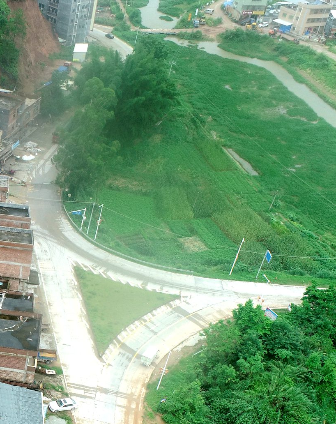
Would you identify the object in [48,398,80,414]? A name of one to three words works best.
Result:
car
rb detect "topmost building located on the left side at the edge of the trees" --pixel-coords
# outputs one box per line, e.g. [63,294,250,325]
[43,0,99,46]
